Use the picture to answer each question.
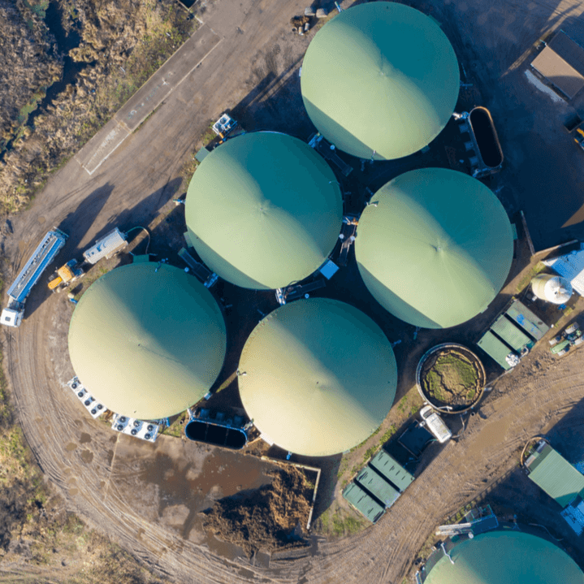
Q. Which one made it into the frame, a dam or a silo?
silo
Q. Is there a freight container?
Yes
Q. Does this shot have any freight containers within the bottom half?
Yes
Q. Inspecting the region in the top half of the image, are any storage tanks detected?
Yes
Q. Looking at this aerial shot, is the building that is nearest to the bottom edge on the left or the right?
right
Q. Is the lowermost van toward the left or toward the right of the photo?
right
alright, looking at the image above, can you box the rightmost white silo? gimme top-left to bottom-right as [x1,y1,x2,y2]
[529,274,574,305]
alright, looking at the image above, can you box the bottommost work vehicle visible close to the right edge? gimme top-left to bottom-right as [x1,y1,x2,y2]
[549,322,583,353]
